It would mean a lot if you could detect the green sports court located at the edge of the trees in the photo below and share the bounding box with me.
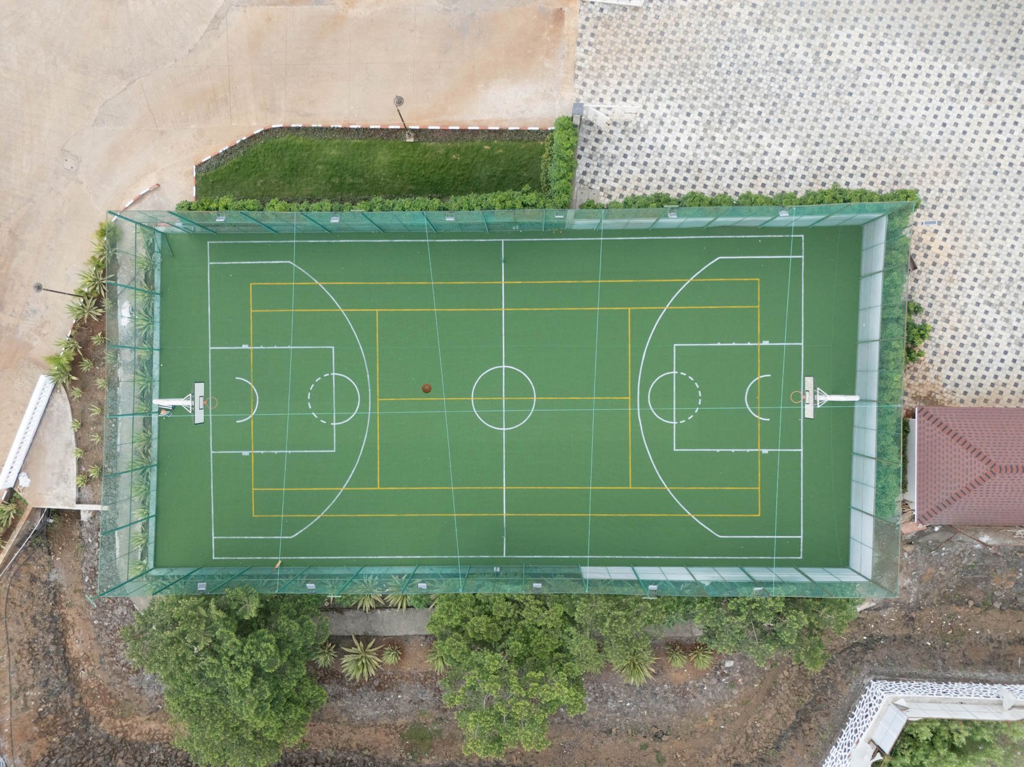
[144,216,874,579]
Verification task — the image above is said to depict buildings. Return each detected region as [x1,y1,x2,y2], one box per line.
[889,405,1024,528]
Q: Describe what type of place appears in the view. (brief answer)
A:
sports ground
